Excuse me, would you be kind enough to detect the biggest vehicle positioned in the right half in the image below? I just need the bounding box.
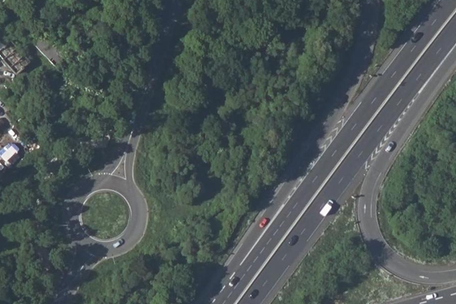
[320,200,334,216]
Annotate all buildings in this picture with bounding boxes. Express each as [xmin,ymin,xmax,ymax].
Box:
[36,38,64,66]
[0,46,30,74]
[0,143,18,163]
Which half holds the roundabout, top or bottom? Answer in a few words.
bottom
